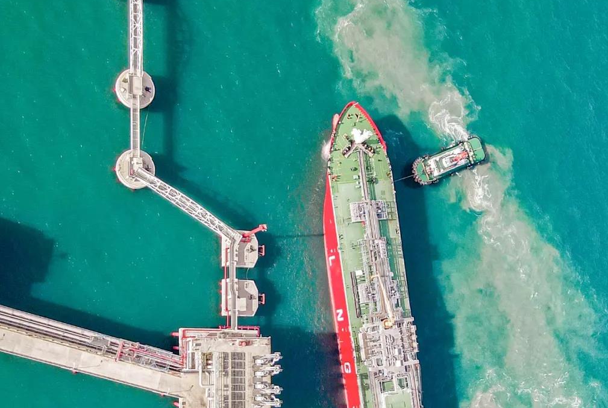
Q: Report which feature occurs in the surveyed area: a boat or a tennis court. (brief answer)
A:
boat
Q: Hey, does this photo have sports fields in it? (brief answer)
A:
No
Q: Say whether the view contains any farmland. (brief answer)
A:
No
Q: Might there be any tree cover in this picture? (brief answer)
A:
No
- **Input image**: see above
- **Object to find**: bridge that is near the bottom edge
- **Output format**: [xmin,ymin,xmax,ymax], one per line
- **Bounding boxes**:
[0,323,182,397]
